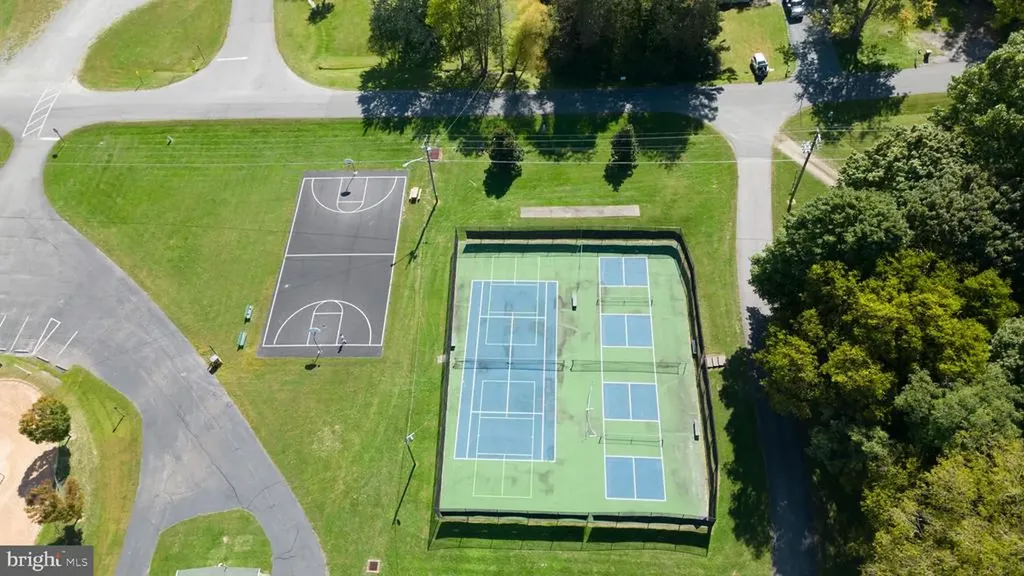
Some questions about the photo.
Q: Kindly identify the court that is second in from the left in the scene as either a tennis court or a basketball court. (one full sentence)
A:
It turns out the court that is second in from the left is a tennis court.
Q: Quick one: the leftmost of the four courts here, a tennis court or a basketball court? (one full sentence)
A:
The leftmost of the four courts in the image is a basketball court.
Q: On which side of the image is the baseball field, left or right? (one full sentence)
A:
The baseball field appears in the left half of the scene.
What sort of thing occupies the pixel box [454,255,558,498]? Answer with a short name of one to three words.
tennis court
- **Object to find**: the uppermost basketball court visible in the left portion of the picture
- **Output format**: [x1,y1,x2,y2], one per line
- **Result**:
[257,171,410,357]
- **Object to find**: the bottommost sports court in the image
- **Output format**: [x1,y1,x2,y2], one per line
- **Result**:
[602,382,666,501]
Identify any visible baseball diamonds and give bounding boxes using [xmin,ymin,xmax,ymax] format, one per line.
[0,378,64,576]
